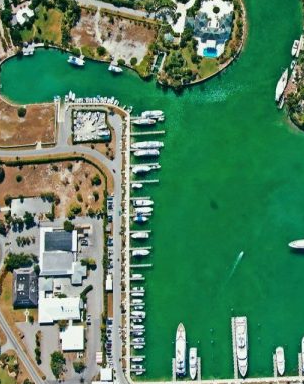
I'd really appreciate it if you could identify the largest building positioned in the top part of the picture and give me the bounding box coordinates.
[184,10,234,45]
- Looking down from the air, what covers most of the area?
water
